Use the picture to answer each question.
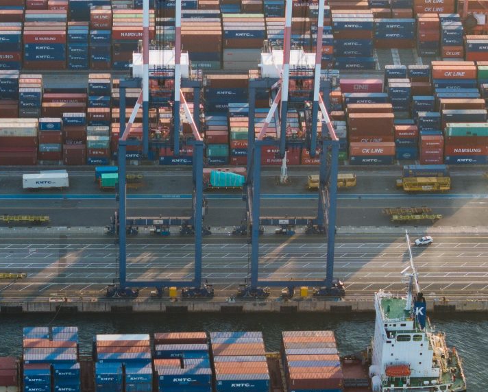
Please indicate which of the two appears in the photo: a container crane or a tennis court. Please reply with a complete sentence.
Visible in the photo is a container crane.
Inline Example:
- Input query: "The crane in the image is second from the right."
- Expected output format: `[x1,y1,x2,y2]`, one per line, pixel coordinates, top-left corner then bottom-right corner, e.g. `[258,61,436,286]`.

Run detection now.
[230,0,349,295]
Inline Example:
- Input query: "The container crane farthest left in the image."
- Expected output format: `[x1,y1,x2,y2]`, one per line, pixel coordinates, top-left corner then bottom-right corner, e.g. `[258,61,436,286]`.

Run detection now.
[103,0,217,295]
